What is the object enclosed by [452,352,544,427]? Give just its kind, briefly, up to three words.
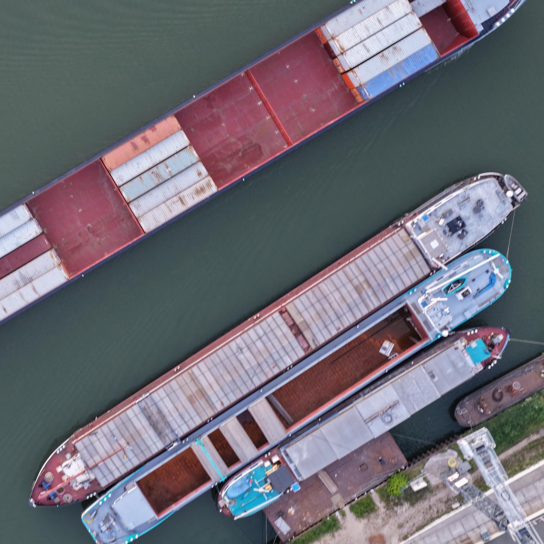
ship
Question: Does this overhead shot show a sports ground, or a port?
port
